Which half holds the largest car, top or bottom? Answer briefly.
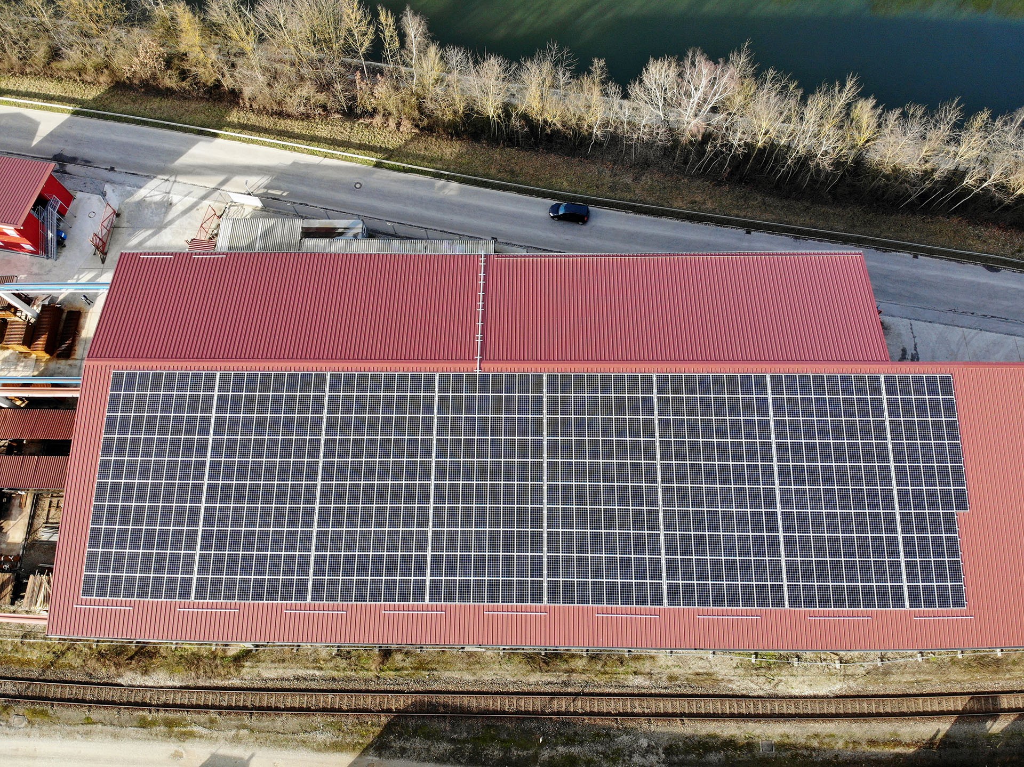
top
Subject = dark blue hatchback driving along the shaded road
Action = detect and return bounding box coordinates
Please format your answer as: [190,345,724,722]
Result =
[551,199,592,223]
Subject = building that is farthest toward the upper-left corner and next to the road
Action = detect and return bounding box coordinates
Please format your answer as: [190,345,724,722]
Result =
[0,152,84,267]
